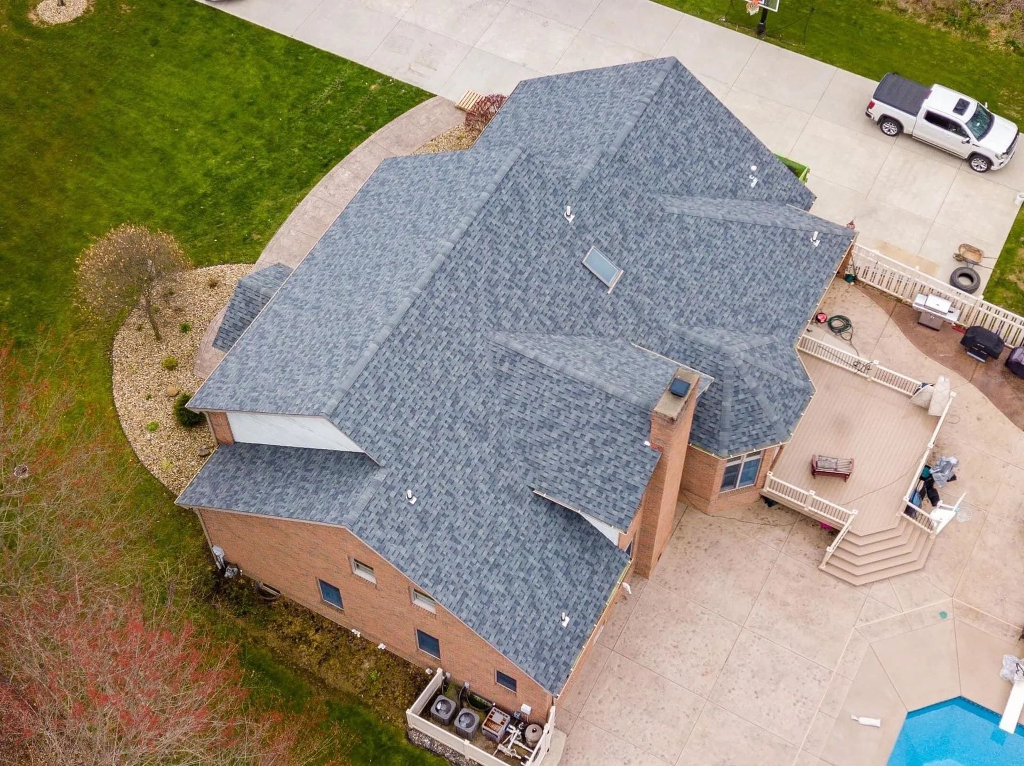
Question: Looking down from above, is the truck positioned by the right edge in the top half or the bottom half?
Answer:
top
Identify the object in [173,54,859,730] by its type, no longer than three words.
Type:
house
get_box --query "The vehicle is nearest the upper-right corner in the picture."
[862,70,1024,169]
